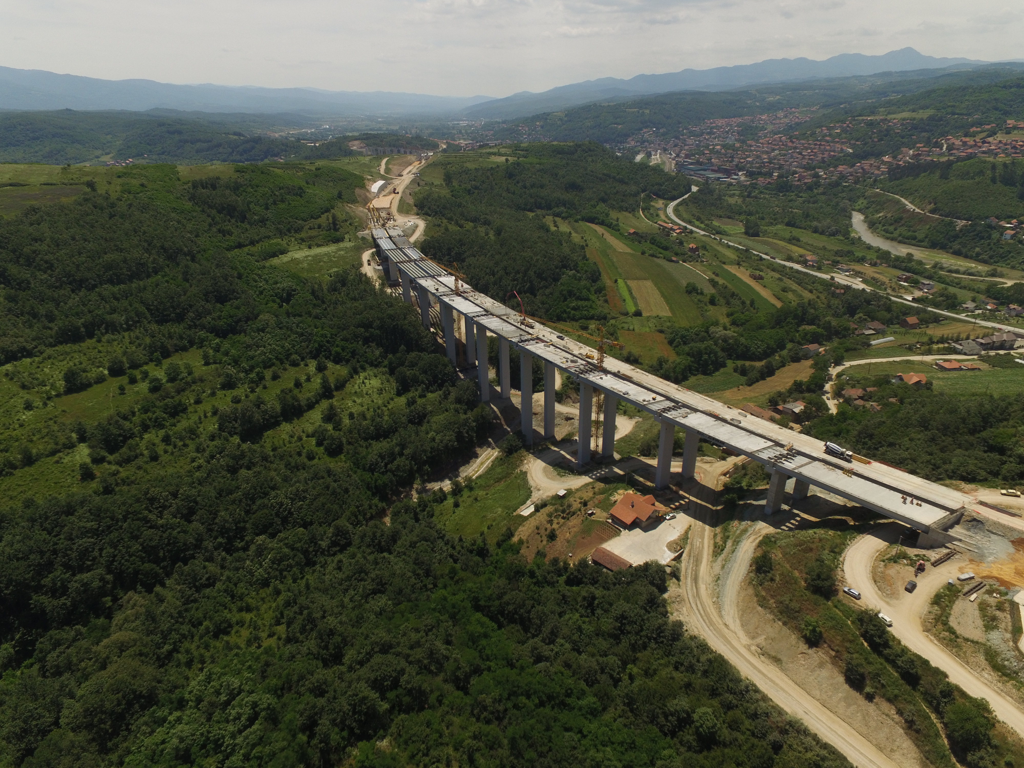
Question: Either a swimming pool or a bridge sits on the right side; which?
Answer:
bridge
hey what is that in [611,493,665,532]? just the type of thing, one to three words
house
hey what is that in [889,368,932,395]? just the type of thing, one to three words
house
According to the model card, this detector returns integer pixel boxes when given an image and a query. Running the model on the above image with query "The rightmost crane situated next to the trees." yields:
[517,310,625,464]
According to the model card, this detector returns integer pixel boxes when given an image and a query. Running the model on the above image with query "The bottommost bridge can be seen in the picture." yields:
[370,228,976,556]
